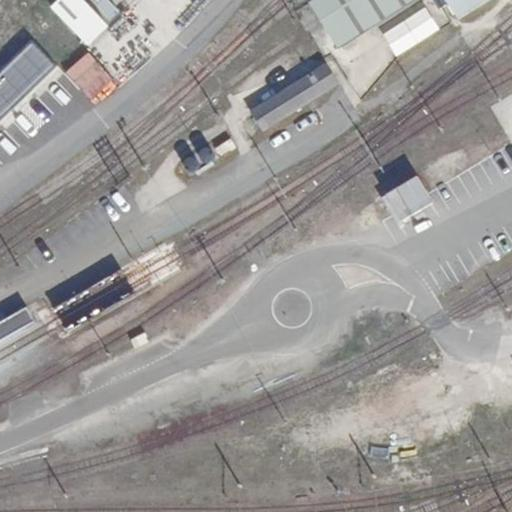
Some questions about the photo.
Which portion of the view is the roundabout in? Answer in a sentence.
You can find the roundabout in the center area of the picture.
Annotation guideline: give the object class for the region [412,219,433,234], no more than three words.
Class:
vehicle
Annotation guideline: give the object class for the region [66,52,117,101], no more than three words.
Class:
shed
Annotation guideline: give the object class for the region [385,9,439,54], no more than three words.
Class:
building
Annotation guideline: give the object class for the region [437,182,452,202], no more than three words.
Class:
car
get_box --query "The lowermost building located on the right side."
[384,174,436,225]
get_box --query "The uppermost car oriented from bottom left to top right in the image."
[268,67,290,84]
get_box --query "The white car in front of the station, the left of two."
[270,129,292,146]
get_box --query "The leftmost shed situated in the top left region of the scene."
[0,40,55,120]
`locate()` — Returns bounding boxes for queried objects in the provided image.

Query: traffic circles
[232,244,390,346]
